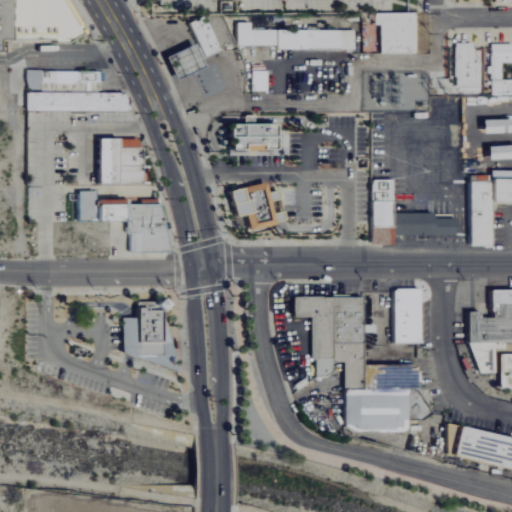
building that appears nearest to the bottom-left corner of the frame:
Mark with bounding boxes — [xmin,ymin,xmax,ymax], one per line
[120,302,165,356]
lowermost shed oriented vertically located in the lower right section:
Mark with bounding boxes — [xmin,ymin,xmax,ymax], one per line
[444,424,458,454]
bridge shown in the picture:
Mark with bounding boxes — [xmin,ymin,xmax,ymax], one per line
[190,427,240,512]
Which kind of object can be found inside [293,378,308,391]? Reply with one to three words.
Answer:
vehicle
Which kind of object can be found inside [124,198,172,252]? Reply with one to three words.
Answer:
building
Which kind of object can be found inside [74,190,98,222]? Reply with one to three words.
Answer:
building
